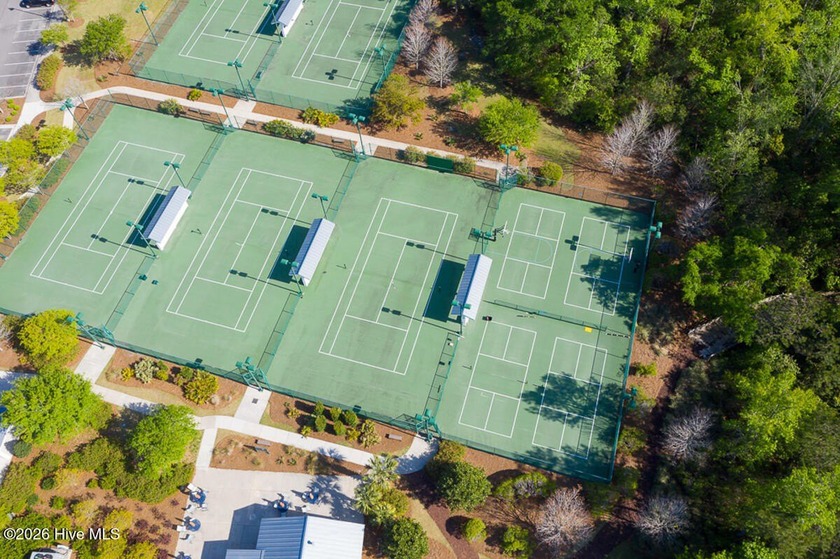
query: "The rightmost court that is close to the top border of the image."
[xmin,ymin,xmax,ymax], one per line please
[248,0,418,121]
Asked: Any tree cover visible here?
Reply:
Yes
